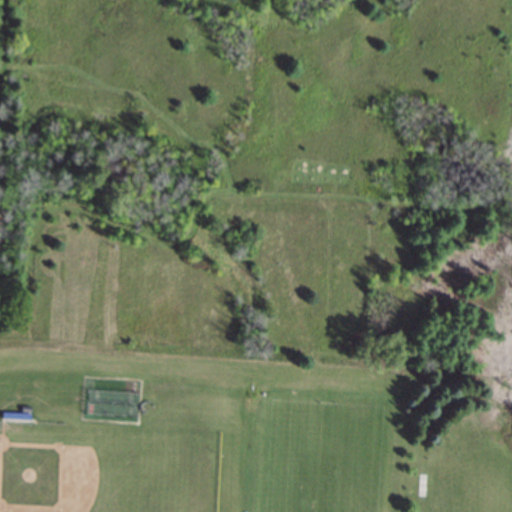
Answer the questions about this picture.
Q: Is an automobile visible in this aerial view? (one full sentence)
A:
No, the photo shows no automobile.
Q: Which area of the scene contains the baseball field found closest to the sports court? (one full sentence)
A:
You can find the baseball field found closest to the sports court in the bottom left area of the picture.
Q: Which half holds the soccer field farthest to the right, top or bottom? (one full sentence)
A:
The soccer field farthest to the right is in the bottom half of the image.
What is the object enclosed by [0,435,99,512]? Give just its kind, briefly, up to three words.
baseball field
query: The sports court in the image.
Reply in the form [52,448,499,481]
[82,378,142,426]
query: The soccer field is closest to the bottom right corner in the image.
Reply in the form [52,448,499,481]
[260,400,388,512]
